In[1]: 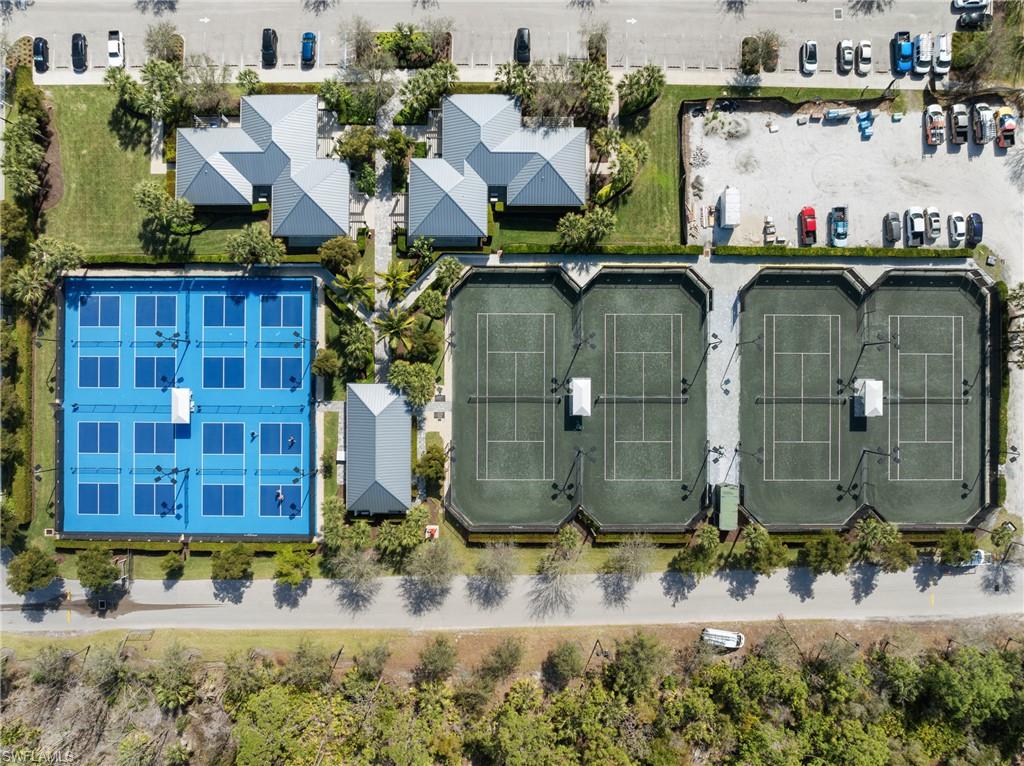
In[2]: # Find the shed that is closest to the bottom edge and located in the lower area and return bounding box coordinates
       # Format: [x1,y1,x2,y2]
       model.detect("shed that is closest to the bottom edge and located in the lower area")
[715,483,737,530]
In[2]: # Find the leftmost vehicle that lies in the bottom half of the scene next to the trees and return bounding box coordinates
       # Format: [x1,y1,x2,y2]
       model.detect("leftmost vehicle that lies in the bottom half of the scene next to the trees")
[701,628,743,650]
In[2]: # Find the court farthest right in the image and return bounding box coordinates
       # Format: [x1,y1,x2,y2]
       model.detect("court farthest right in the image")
[866,273,985,523]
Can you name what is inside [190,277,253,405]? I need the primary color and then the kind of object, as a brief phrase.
blue sports court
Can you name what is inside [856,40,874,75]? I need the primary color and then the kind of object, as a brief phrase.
white car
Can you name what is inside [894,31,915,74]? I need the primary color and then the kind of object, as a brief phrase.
blue truck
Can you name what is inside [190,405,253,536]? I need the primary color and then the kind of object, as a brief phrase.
blue sports court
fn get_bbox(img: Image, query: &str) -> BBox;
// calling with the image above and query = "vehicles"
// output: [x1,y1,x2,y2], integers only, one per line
[913,30,935,75]
[259,27,279,66]
[923,207,942,240]
[925,105,947,147]
[882,210,902,245]
[838,39,856,74]
[799,206,818,245]
[830,205,850,245]
[953,0,990,13]
[856,40,874,75]
[933,30,955,75]
[994,107,1016,149]
[299,32,317,66]
[947,211,967,244]
[894,31,915,74]
[801,40,819,74]
[105,28,125,68]
[974,104,998,145]
[905,207,926,246]
[964,213,984,246]
[67,34,89,72]
[950,105,971,146]
[957,10,994,30]
[701,628,743,650]
[514,27,532,66]
[31,38,50,73]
